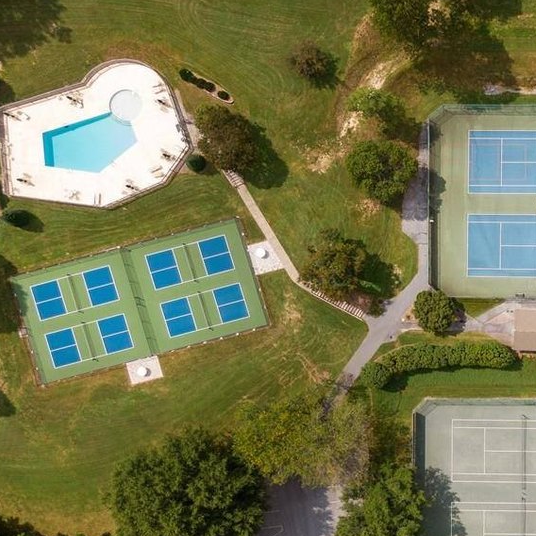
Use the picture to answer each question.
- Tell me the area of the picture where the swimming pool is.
top left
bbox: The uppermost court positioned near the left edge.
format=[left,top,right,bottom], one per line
[12,247,136,331]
